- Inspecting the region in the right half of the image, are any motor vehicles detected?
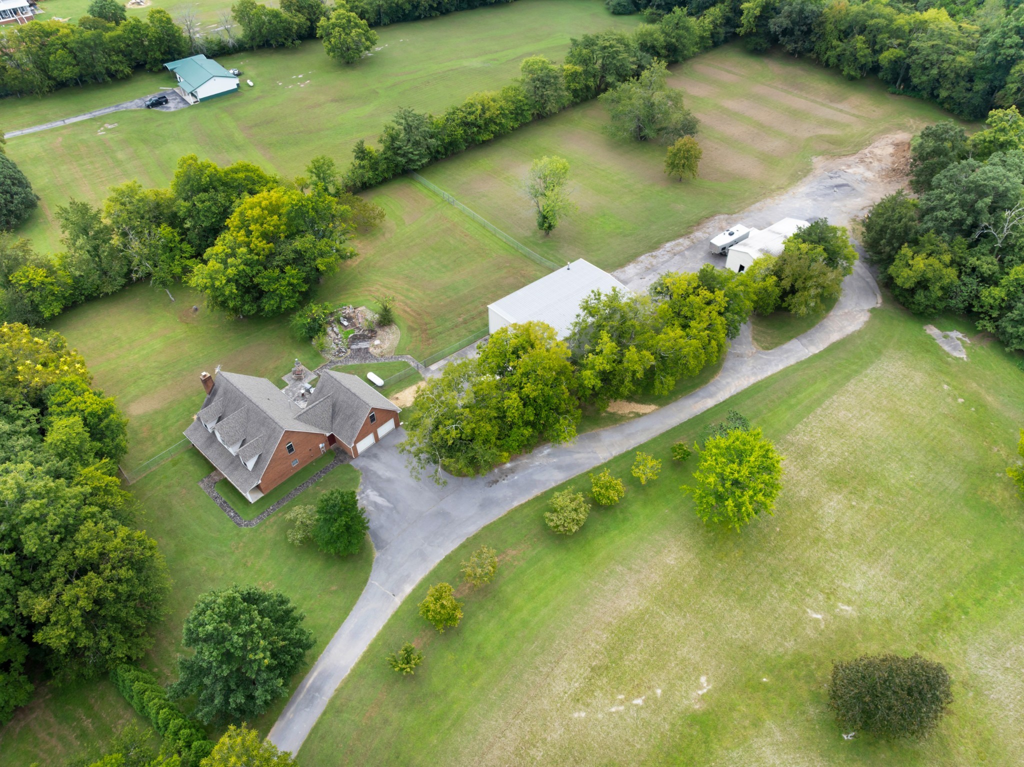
Yes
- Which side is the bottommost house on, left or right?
left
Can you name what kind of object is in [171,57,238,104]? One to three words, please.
building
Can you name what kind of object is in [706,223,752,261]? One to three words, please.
vehicle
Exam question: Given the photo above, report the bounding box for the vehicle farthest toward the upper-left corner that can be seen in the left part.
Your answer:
[142,95,171,108]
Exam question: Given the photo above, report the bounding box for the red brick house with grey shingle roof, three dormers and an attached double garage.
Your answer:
[181,365,402,505]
